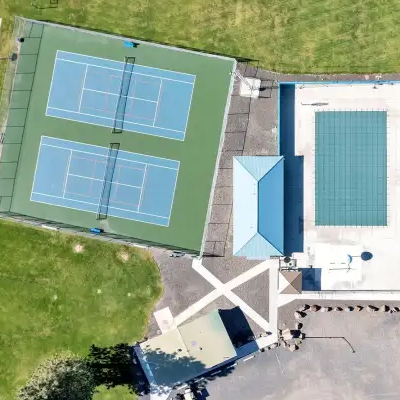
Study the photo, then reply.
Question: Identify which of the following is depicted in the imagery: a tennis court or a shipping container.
tennis court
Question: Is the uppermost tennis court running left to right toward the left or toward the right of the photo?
left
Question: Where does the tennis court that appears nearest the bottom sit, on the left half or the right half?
left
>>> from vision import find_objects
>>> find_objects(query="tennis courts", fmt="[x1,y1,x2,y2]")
[45,51,195,140]
[30,136,180,226]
